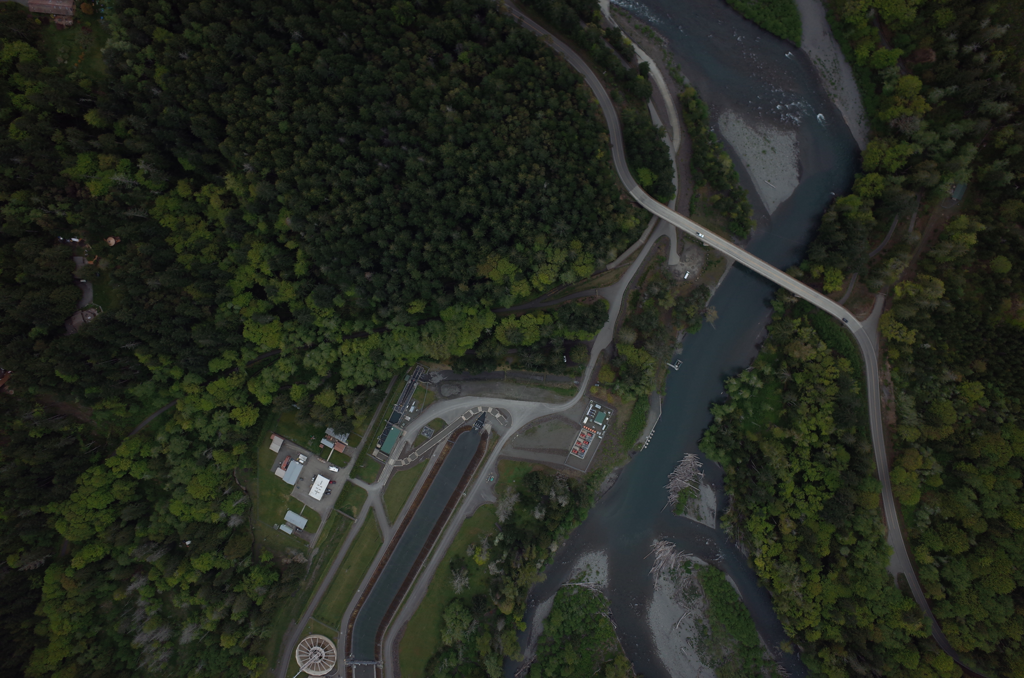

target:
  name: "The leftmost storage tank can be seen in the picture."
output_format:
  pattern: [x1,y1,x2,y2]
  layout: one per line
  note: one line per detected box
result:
[293,634,337,678]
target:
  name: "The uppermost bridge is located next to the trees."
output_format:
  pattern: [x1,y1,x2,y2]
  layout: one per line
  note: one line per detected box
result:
[629,184,865,336]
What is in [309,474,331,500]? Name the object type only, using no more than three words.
building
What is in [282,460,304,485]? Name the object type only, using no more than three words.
building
